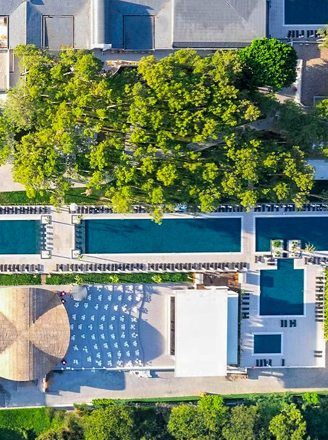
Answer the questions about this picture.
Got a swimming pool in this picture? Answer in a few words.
Yes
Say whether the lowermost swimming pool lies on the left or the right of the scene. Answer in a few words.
right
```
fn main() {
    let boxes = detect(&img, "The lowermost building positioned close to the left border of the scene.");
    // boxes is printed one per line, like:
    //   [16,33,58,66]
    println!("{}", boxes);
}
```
[0,287,70,382]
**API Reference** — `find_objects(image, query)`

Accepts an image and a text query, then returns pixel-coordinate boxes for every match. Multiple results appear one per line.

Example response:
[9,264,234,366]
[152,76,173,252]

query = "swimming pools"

[72,216,243,256]
[253,214,328,317]
[283,0,328,26]
[0,218,48,256]
[252,333,283,355]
